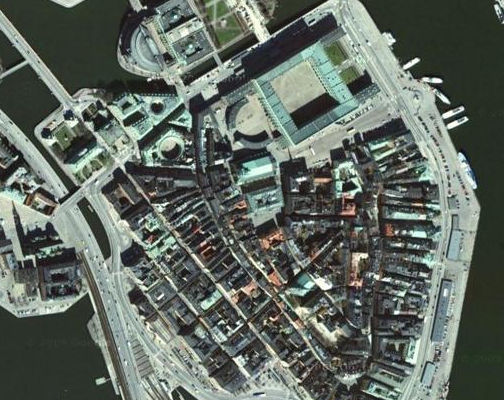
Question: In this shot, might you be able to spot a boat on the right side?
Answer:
Yes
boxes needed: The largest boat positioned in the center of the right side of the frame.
[459,151,479,190]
